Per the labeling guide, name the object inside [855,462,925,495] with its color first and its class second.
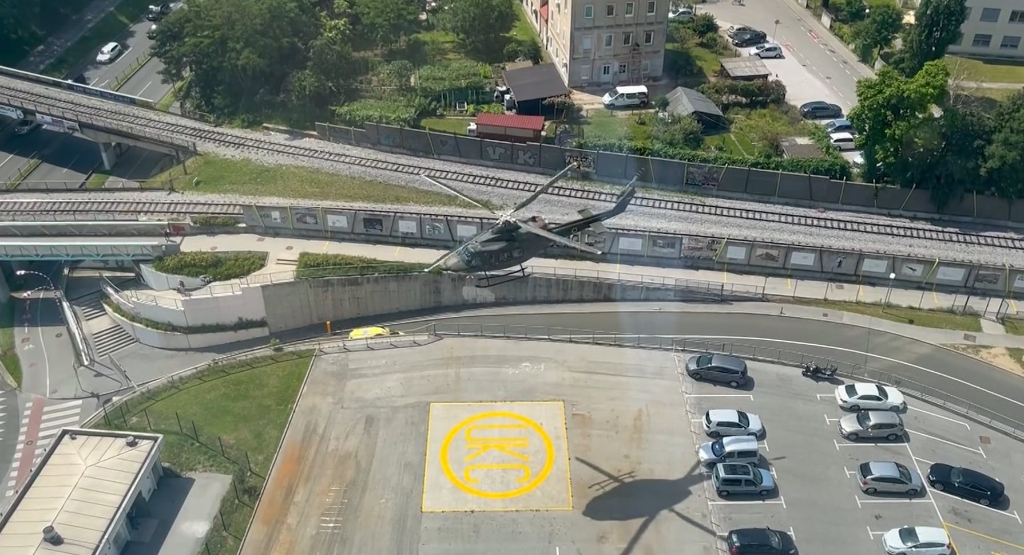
gray car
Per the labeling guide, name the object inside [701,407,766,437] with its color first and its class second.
white car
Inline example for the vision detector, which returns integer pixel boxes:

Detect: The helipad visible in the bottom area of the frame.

[422,400,573,511]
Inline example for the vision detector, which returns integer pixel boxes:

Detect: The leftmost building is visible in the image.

[0,425,167,555]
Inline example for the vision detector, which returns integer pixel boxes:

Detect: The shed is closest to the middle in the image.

[475,113,545,143]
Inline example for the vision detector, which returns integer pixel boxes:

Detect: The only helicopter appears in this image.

[415,156,640,290]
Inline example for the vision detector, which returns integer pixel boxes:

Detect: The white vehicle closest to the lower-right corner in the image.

[879,525,954,555]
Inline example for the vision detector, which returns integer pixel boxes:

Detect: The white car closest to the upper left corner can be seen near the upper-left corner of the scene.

[95,41,122,64]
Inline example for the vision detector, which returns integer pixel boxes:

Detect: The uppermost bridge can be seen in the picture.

[0,64,197,170]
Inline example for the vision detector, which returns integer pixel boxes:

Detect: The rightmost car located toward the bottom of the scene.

[926,462,1007,506]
